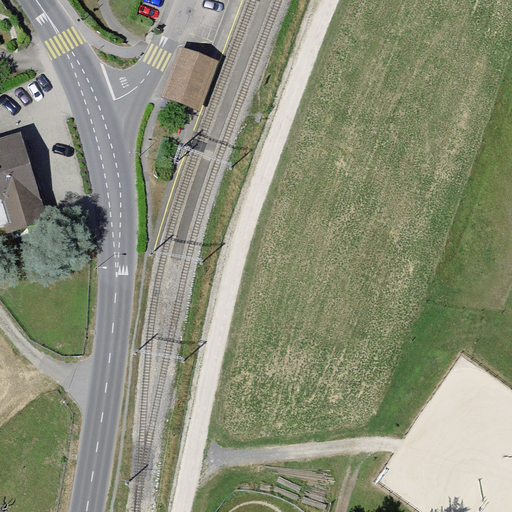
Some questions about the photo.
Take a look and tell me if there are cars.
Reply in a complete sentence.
Yes, a car appears in the view.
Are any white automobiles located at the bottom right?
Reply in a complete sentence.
No, looking at the bottom right, there is no white automobile.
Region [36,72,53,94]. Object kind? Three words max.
car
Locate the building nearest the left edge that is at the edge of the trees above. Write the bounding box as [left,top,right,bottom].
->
[0,130,46,233]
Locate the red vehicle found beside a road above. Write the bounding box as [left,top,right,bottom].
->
[138,5,160,18]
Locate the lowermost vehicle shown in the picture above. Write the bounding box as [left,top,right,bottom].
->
[52,143,74,157]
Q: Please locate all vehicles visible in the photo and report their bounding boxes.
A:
[36,72,53,94]
[14,86,34,107]
[138,5,160,18]
[0,94,21,116]
[27,80,44,102]
[52,143,74,157]
[144,0,164,6]
[202,0,224,12]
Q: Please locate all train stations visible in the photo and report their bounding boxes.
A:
[162,46,219,109]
